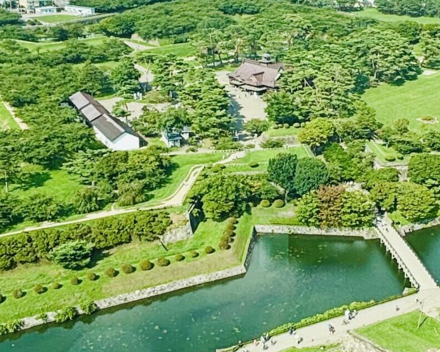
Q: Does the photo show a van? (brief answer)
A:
No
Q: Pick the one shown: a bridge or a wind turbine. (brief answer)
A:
bridge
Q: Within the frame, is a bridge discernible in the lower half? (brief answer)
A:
Yes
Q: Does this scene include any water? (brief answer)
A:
Yes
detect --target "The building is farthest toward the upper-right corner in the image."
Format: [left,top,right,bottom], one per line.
[230,58,288,94]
